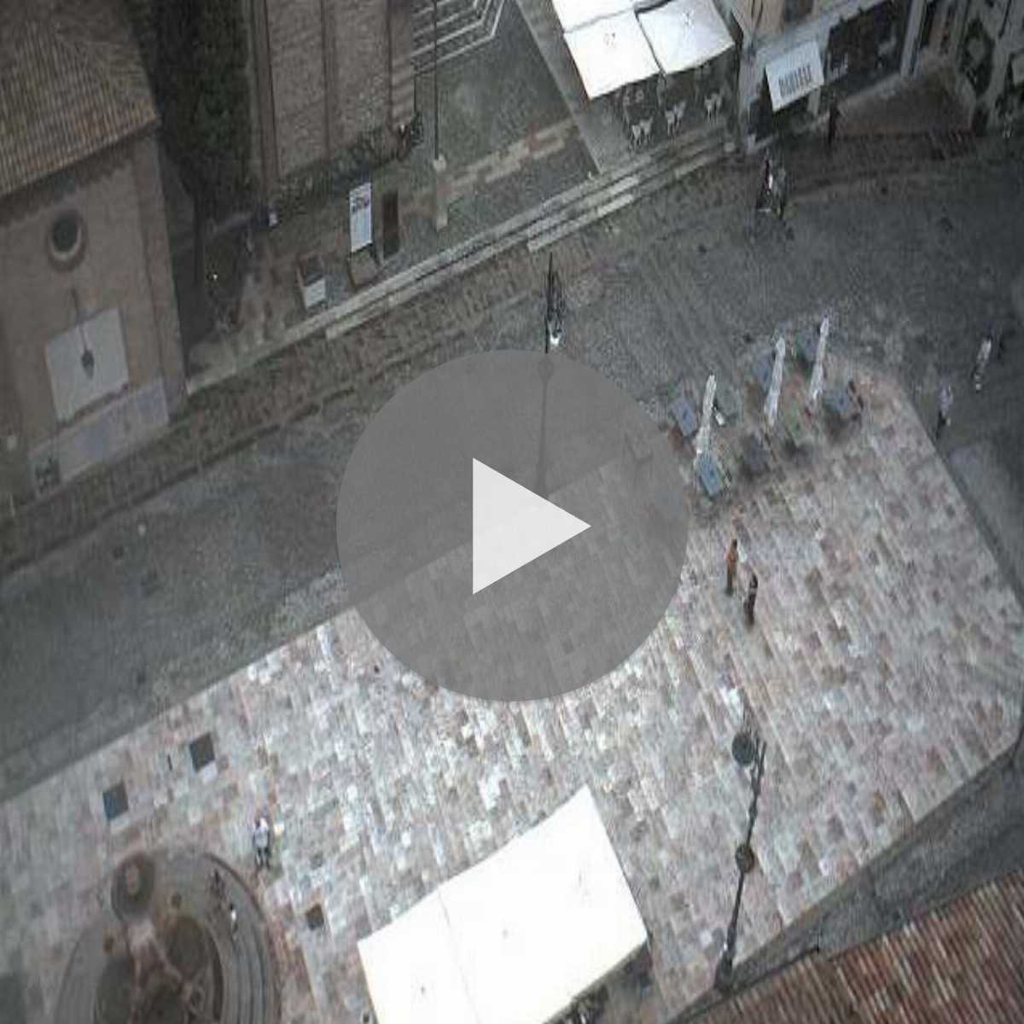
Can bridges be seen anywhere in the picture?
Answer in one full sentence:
No, no bridge is visible in the view.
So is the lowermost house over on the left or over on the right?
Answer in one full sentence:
The lowermost house is on the right side of the image.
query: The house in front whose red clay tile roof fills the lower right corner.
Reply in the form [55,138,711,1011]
[678,869,1024,1024]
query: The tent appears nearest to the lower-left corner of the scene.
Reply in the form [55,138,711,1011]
[358,789,647,1024]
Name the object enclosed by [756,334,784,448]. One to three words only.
umbrella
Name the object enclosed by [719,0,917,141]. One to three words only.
building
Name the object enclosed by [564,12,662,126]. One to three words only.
umbrella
